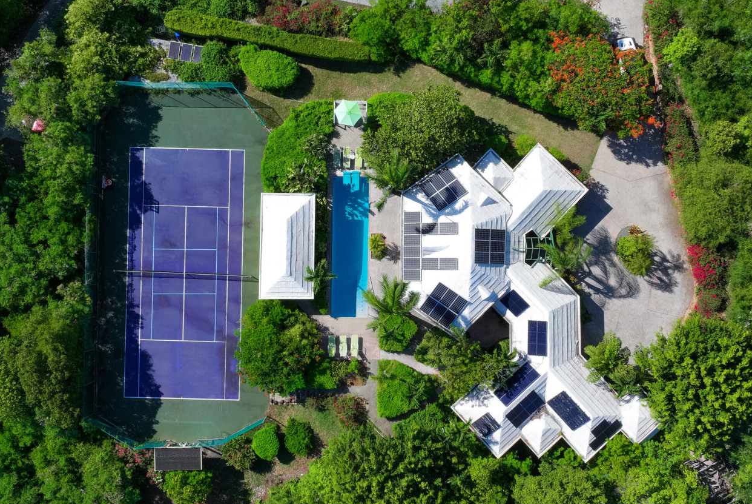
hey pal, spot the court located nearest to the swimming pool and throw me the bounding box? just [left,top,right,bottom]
[97,90,273,443]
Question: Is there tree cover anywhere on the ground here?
Yes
